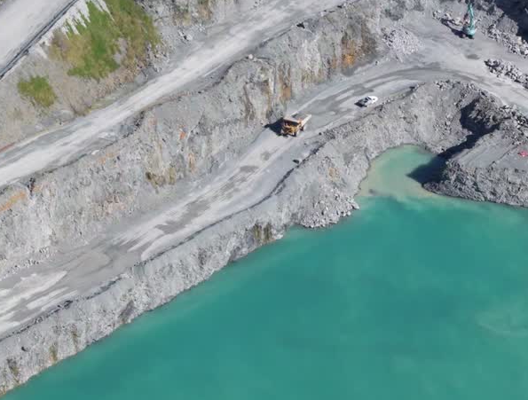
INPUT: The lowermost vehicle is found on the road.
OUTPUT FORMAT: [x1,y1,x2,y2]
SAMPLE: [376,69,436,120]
[281,106,315,136]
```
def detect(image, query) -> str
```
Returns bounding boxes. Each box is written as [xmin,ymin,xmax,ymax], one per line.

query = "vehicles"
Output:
[281,106,315,136]
[464,10,477,39]
[357,95,377,105]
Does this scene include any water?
Yes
